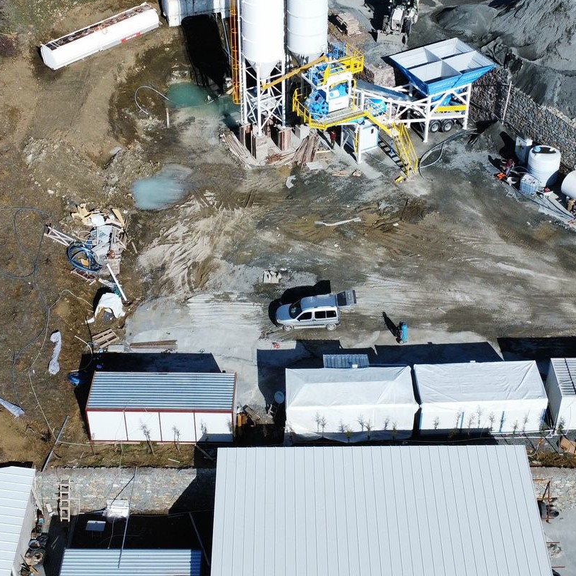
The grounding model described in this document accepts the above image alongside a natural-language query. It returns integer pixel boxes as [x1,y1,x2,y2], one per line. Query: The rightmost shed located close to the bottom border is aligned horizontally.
[204,434,549,576]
